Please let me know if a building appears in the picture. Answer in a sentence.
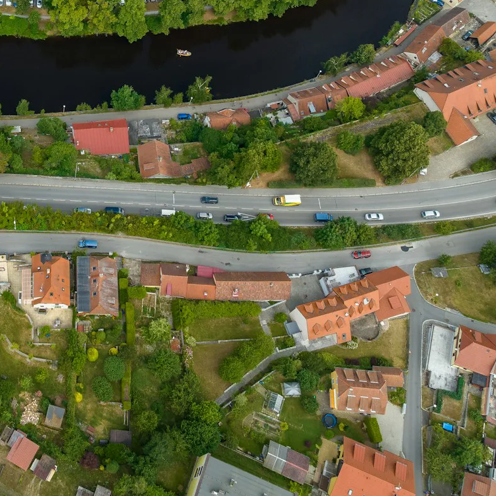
Yes, the frame does contain a building.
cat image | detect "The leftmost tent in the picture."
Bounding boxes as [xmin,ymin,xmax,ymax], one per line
[278,380,301,400]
